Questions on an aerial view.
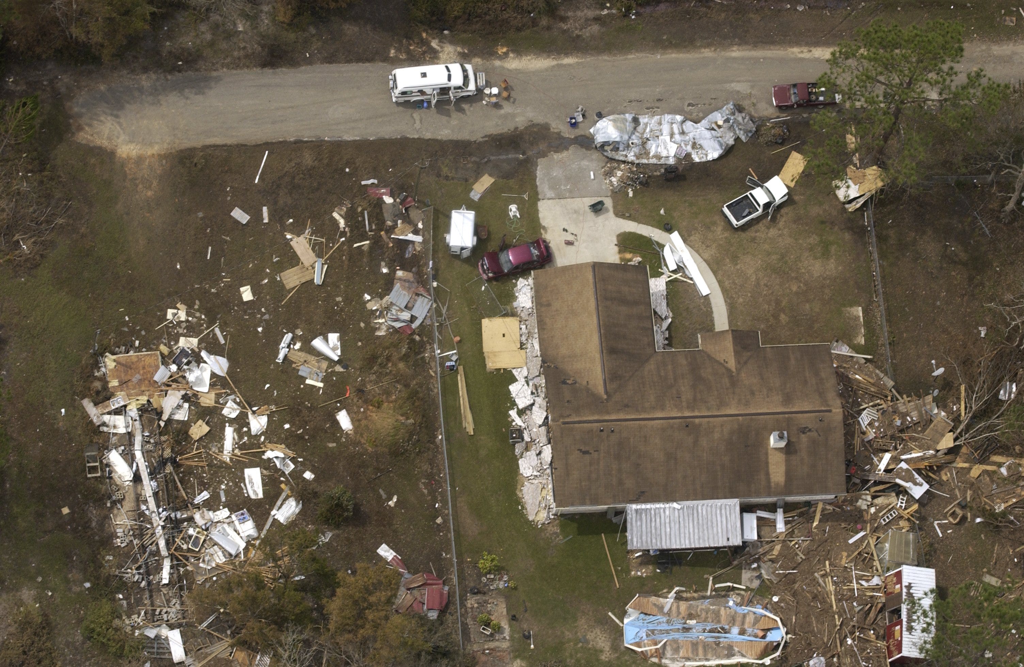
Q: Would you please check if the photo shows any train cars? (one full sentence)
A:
No, I can't see a single train car in this photo.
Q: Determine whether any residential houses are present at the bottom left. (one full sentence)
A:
No, no residential house appears at the bottom left.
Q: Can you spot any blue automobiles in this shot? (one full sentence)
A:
No, I can see no blue automobile in this picture.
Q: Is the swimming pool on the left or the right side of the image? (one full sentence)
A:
The swimming pool is on the right side of the image.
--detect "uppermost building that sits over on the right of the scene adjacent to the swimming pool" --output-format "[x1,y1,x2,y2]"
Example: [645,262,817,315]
[529,259,850,518]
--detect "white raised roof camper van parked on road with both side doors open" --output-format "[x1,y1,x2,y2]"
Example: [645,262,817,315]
[393,63,478,107]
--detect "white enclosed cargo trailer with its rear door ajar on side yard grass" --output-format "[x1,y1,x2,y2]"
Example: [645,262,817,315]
[445,211,475,262]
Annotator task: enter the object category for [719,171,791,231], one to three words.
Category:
truck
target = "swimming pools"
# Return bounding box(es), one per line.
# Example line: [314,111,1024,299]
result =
[608,577,784,667]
